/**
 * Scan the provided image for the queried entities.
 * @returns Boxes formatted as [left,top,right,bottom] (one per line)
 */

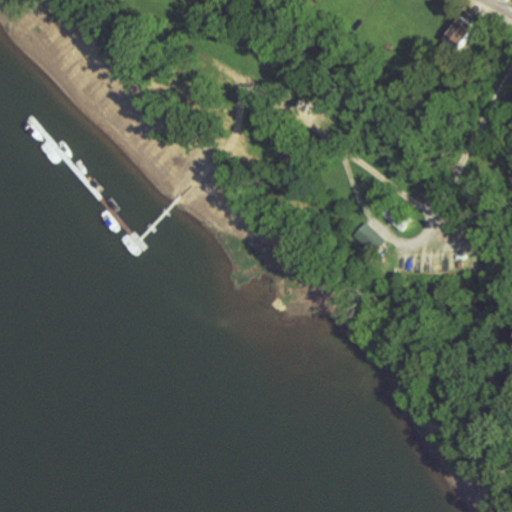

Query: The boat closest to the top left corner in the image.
[27,125,43,142]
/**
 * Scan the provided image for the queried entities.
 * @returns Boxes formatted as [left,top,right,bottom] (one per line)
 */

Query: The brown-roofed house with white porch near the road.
[444,16,472,48]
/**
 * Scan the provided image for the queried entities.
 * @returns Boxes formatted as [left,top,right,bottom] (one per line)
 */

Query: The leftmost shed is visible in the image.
[354,223,385,253]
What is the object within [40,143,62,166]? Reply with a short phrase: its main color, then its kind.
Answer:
white boat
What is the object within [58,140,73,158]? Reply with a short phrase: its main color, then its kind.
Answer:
white boat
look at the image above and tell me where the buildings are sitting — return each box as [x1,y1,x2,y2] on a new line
[388,212,416,234]
[444,16,472,48]
[354,223,385,253]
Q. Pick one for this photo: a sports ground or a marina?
marina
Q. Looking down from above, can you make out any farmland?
No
